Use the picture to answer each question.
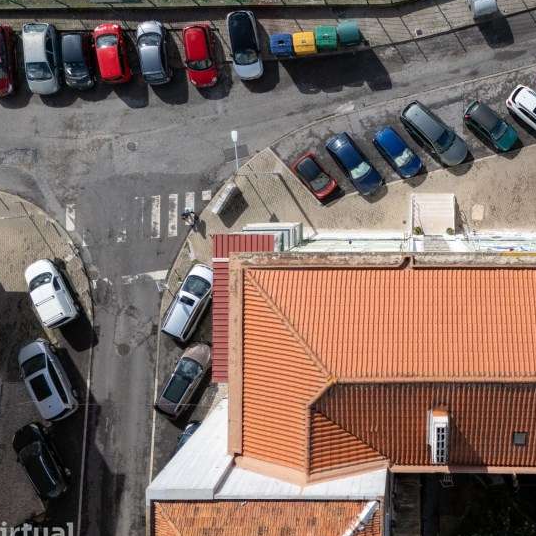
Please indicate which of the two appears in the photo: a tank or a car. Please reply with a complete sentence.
Looking from above, you can make out a car.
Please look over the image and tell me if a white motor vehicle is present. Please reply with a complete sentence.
Yes, a white motor vehicle is visible in the scene.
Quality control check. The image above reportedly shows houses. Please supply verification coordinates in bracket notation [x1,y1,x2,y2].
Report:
[154,468,391,536]
[227,230,536,492]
